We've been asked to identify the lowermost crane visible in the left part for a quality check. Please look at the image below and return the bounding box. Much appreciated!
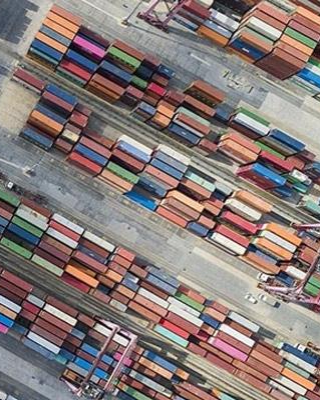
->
[55,309,144,400]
